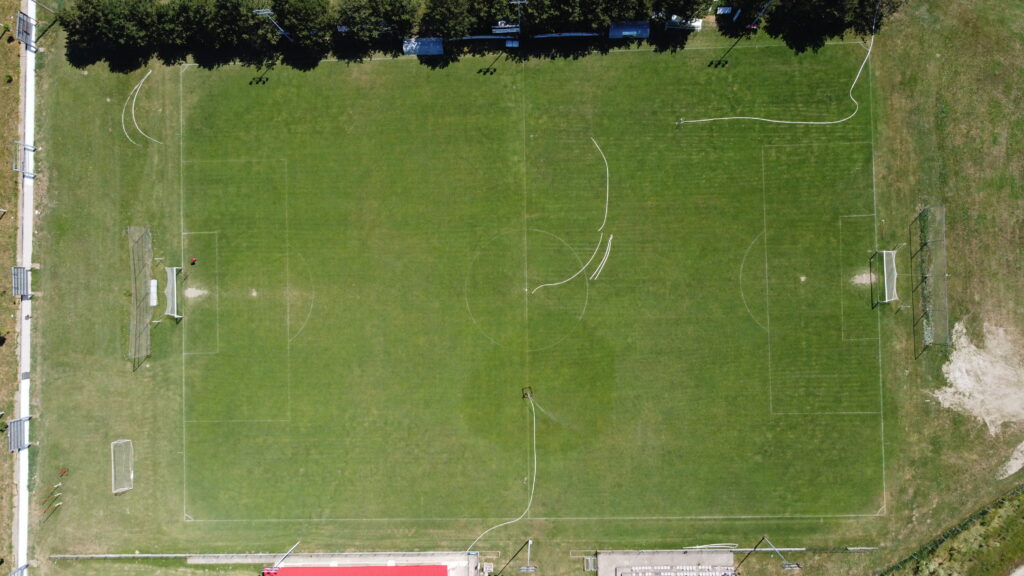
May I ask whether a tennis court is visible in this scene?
No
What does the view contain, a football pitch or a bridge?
football pitch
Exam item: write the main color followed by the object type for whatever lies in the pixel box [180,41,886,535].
green soccer field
